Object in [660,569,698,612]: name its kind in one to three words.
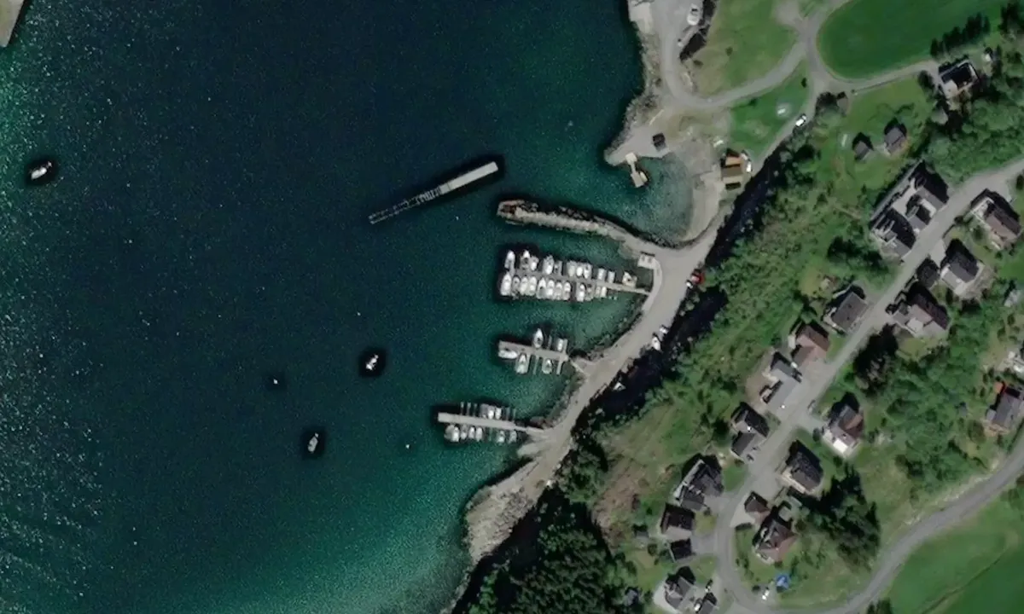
house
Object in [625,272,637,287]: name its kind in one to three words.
boat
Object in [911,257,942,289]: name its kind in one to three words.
building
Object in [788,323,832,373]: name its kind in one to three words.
house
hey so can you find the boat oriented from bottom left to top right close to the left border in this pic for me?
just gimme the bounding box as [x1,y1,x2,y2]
[30,168,46,180]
